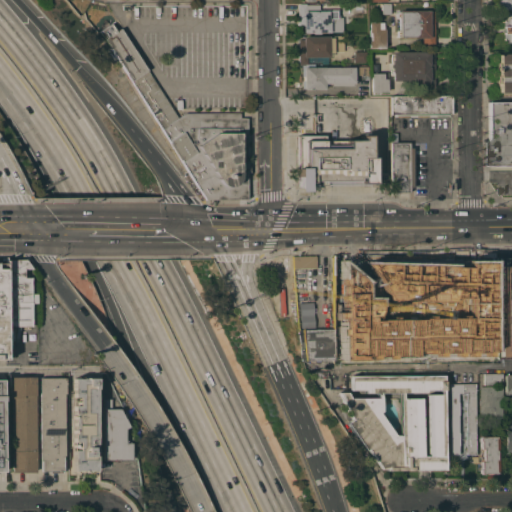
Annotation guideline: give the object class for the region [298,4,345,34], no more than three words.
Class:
house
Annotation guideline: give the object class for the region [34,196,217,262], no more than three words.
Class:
overpass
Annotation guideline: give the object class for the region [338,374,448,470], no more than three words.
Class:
building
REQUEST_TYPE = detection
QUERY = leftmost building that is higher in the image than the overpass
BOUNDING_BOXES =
[104,24,249,204]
